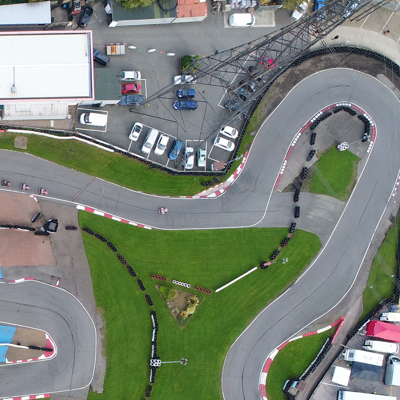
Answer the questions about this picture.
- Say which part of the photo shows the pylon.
top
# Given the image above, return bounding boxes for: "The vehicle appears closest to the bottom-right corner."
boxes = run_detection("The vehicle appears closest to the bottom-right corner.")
[383,355,400,386]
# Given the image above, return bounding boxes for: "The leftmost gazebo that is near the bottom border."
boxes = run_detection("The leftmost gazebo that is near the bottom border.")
[327,365,352,386]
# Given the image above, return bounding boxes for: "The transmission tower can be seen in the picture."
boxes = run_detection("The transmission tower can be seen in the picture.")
[127,0,357,169]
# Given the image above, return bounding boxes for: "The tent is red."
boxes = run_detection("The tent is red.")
[359,320,400,342]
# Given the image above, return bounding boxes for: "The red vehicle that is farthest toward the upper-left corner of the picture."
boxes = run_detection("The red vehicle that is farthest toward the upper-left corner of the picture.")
[121,82,141,95]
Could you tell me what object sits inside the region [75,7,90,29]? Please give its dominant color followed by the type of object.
black car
